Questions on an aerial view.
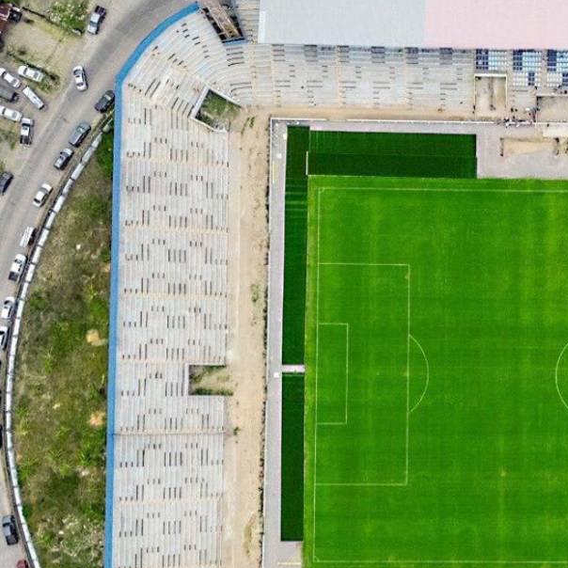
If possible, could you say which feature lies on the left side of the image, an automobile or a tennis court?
automobile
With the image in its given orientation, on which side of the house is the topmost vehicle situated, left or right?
right of it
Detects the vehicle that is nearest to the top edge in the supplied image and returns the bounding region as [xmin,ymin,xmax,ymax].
[87,3,107,34]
